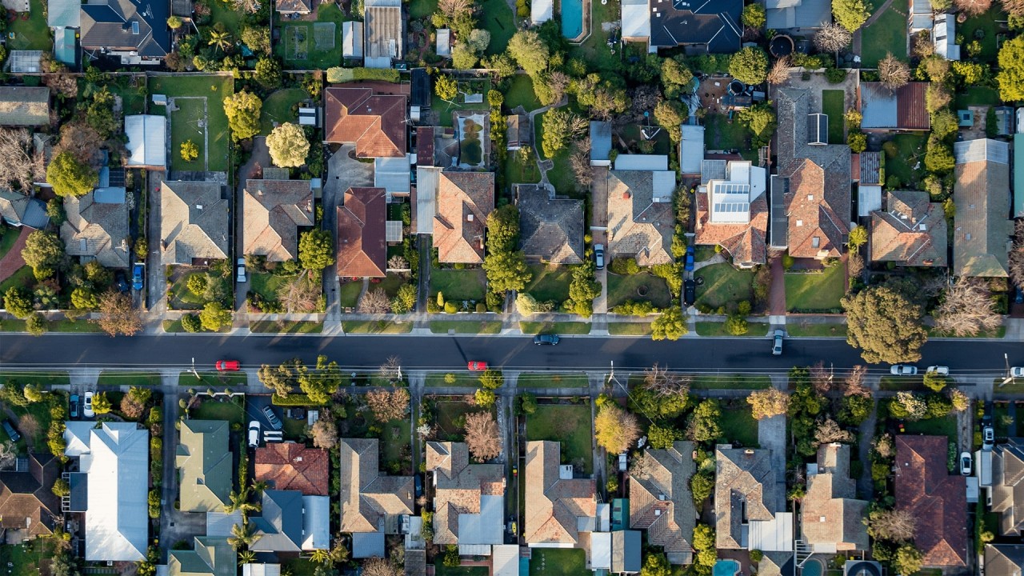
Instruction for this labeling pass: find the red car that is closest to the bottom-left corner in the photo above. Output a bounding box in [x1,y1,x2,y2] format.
[216,359,241,371]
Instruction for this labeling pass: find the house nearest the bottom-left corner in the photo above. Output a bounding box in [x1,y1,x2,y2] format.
[0,453,63,545]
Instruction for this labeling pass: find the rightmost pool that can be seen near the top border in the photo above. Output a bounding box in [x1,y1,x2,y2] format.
[558,0,592,42]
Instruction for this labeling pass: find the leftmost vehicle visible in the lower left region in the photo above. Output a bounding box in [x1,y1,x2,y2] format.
[1,417,22,443]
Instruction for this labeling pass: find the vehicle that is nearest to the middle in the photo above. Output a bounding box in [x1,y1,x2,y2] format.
[533,334,559,346]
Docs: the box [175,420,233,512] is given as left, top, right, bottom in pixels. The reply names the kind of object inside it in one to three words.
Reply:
house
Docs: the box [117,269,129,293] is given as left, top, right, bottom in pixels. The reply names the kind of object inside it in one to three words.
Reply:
vehicle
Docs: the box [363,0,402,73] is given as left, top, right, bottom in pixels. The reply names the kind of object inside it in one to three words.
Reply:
shed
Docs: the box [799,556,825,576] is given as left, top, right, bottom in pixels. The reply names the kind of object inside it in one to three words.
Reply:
swimming pool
